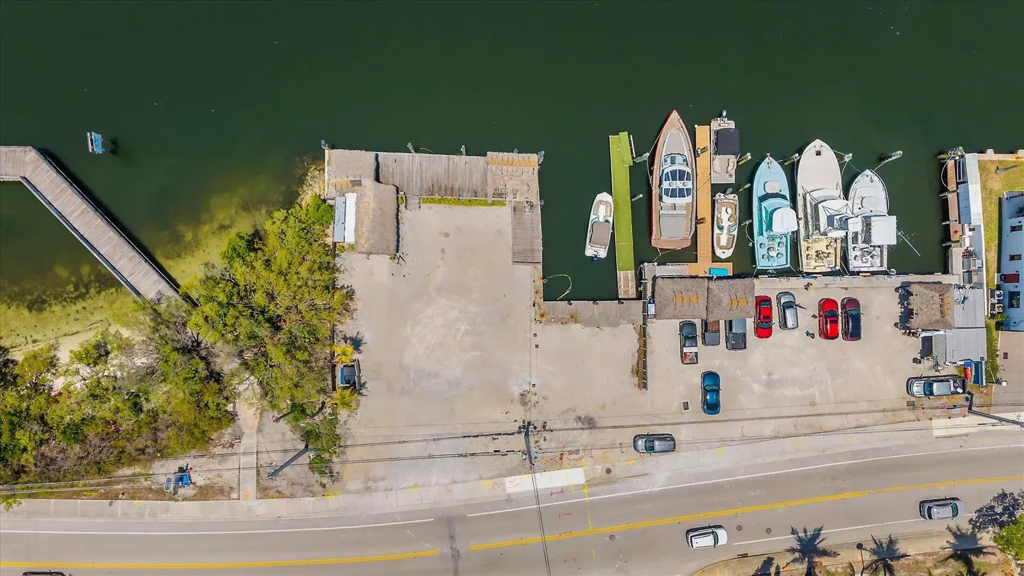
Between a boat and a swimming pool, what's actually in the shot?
boat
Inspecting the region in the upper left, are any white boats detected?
No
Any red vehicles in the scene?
Yes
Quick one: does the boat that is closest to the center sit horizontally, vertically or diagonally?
vertically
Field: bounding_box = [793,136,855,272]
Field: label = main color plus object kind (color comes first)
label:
white boat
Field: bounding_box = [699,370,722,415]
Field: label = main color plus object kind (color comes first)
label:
blue car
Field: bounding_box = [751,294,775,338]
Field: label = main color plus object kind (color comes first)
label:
red car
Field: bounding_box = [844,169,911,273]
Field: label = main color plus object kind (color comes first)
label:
white boat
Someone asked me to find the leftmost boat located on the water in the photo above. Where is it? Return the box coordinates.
[586,192,613,262]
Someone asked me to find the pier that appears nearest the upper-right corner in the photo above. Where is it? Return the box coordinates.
[941,158,960,246]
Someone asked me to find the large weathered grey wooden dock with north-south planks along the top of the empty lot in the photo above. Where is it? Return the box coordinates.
[324,148,541,200]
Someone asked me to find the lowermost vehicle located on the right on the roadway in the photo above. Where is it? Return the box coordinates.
[683,522,727,548]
